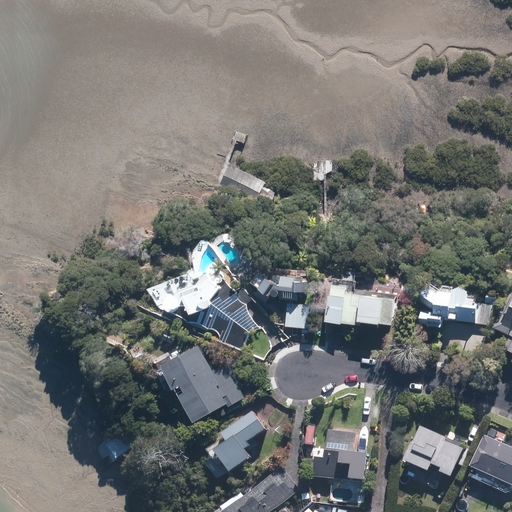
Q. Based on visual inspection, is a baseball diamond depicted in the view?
No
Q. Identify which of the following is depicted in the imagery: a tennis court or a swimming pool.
swimming pool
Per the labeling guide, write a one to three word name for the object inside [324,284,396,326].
house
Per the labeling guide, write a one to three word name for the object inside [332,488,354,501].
swimming pool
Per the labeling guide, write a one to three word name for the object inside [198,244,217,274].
swimming pool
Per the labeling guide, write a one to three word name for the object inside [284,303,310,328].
building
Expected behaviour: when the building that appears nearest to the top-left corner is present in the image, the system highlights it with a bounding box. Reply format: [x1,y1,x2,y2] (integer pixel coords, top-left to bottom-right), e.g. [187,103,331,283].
[220,164,266,200]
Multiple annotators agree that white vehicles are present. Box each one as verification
[364,398,372,414]
[320,382,334,392]
[360,358,376,364]
[410,382,423,390]
[468,425,478,440]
